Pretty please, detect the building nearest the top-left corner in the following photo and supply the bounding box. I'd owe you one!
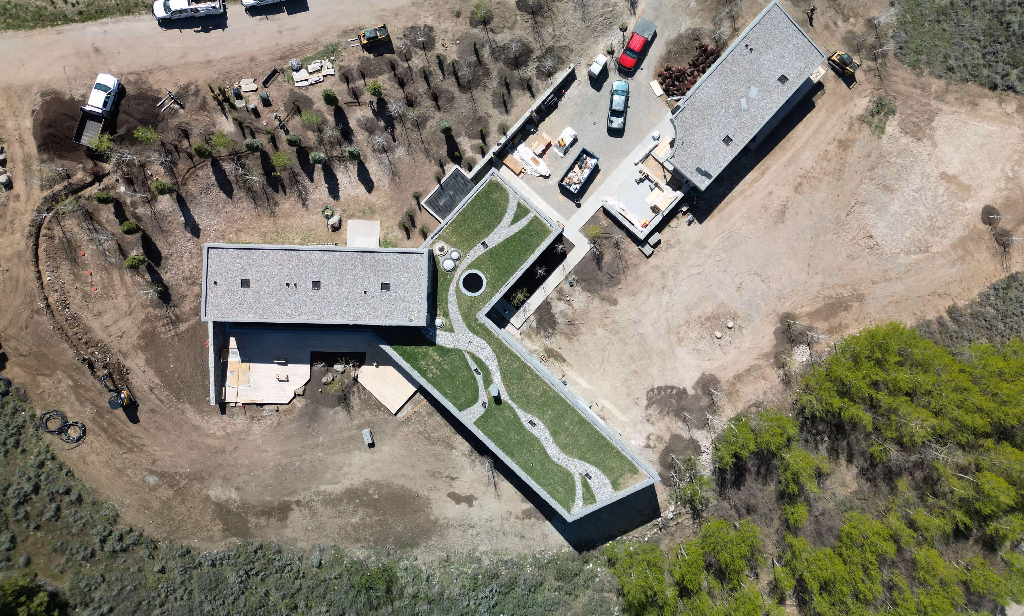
[201,243,431,327]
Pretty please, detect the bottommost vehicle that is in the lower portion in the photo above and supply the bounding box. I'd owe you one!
[104,374,144,419]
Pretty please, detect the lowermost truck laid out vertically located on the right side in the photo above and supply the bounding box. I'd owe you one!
[607,78,631,132]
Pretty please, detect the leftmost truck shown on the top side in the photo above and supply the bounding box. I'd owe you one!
[71,73,123,148]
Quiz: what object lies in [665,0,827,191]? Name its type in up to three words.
house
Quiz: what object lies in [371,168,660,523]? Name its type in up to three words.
building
